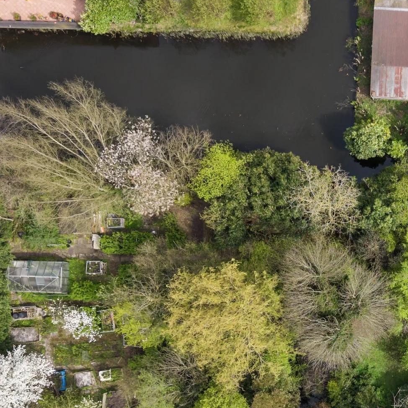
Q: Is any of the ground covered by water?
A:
Yes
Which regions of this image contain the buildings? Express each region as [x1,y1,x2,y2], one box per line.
[369,0,408,104]
[0,261,67,292]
